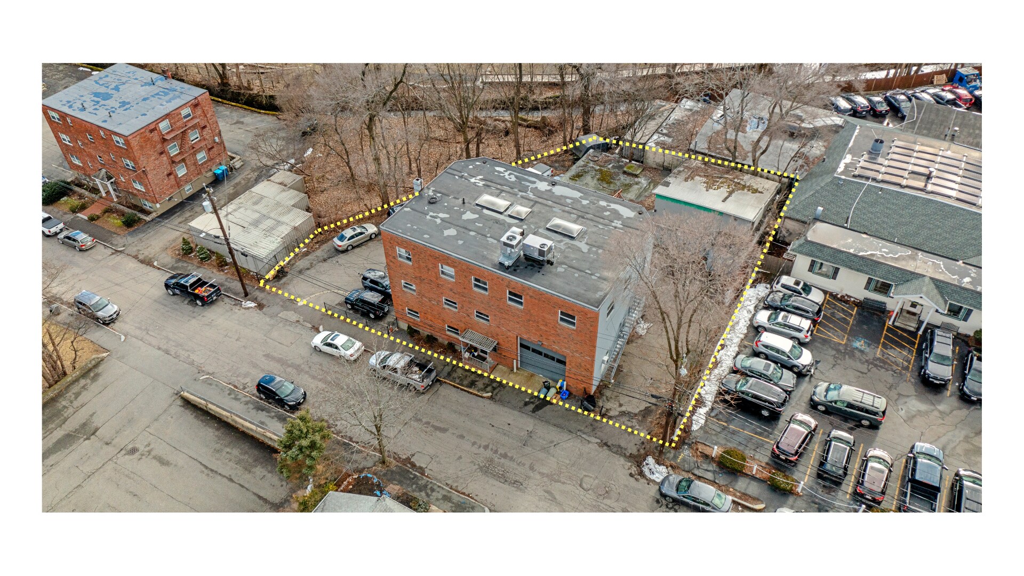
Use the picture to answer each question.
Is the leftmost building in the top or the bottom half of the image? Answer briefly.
top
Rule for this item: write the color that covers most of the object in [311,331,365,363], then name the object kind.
white car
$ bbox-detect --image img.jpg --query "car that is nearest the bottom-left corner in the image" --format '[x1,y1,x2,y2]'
[72,291,122,324]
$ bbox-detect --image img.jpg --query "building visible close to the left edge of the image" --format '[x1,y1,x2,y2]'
[42,63,229,214]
